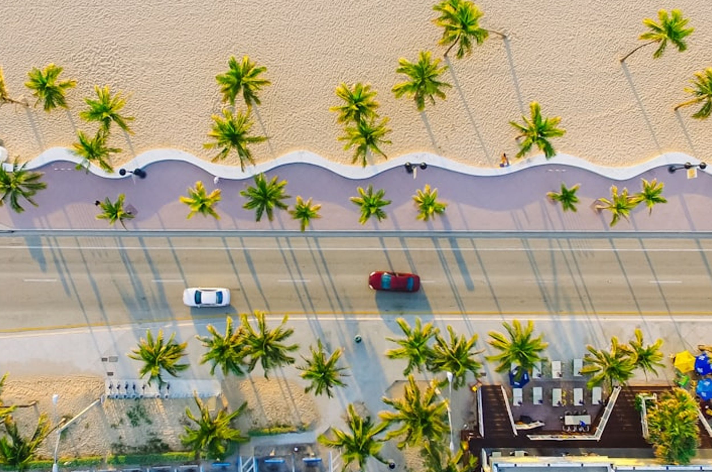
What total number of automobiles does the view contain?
2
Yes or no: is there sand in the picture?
Yes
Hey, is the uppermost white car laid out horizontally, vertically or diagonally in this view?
horizontally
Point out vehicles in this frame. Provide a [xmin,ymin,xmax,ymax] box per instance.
[182,287,230,309]
[369,271,421,294]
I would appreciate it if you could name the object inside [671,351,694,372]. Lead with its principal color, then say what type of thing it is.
yellow umbrella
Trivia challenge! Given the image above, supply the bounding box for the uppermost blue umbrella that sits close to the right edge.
[693,353,712,375]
